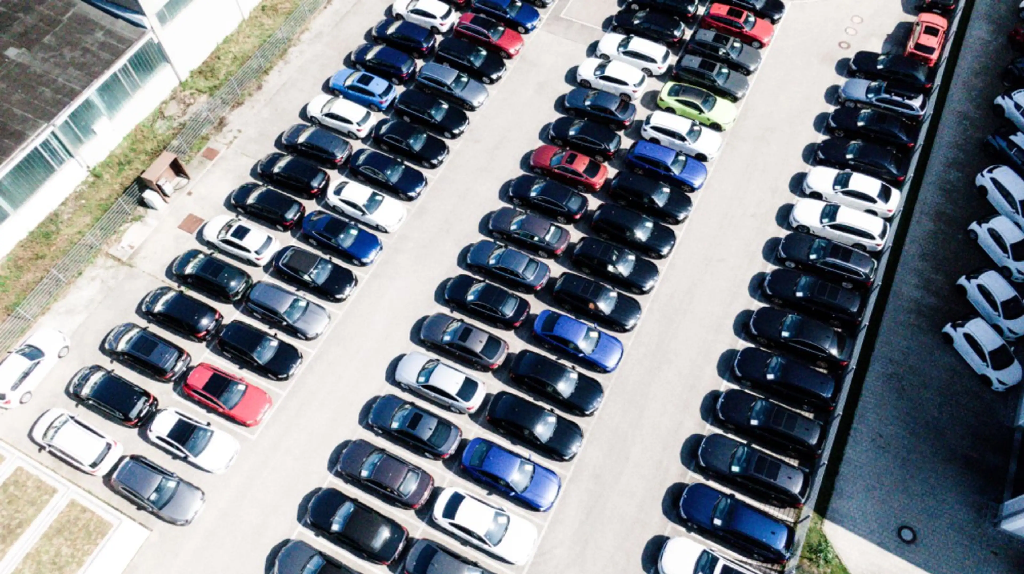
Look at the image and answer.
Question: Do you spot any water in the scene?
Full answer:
No, no water is visible.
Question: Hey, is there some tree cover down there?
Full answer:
No, the picture contains no tree cover.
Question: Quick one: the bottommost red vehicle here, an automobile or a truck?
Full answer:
The bottommost red vehicle can be classified as an automobile.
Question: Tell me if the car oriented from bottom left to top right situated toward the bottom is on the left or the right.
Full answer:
The car oriented from bottom left to top right situated toward the bottom sits on the left side.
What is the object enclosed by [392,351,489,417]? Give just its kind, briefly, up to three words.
car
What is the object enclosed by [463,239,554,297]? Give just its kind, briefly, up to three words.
car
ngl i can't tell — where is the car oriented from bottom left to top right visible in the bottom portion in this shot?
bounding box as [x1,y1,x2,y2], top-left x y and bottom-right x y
[0,326,74,409]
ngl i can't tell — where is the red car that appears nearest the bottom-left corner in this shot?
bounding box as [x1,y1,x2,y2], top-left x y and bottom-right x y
[175,358,274,429]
